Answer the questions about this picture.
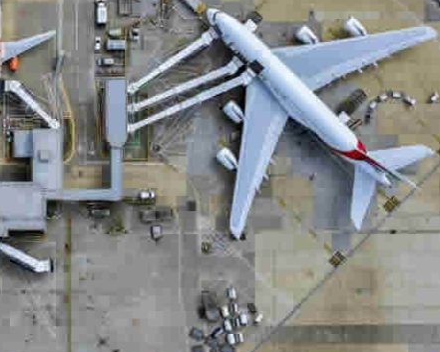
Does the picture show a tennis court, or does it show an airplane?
airplane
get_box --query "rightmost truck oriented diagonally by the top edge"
[243,9,265,31]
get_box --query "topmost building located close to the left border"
[13,128,61,179]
